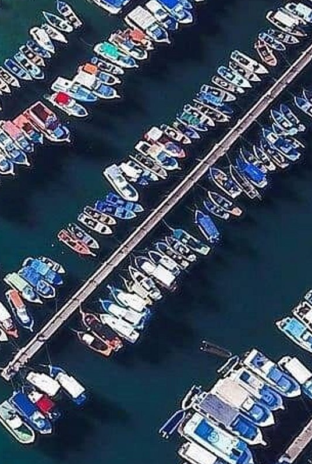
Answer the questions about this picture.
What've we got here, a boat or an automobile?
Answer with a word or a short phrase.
boat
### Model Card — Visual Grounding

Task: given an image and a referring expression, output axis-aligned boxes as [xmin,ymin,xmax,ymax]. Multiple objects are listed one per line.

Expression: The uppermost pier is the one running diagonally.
[0,39,312,385]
